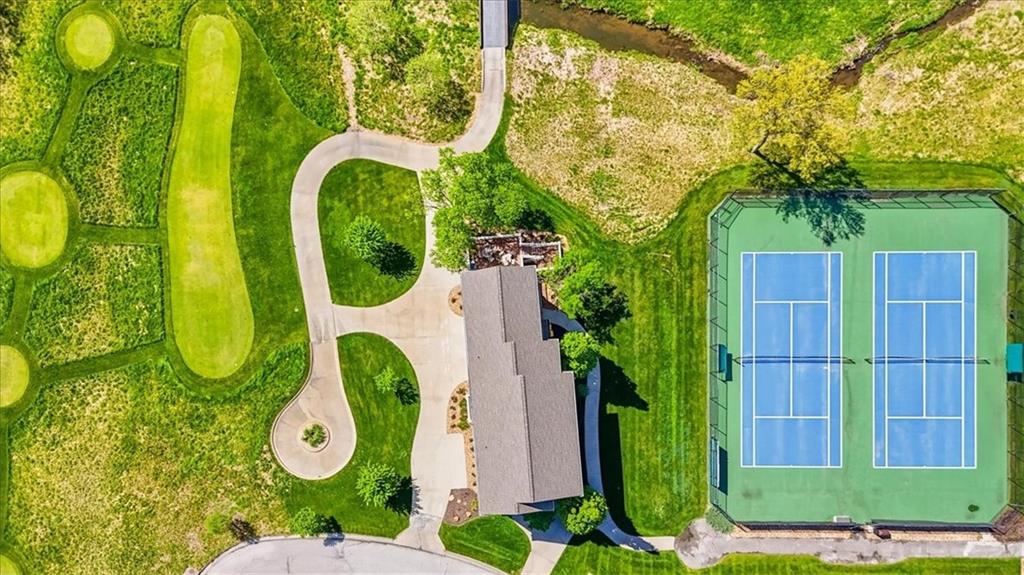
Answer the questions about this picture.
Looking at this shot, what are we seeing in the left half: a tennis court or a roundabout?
roundabout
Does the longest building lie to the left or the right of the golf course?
right of it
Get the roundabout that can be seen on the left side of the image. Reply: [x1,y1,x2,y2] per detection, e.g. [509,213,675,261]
[271,352,356,480]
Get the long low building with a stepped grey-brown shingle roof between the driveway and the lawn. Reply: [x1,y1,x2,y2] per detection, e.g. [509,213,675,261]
[461,267,584,517]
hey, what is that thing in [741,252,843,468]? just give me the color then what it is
blue tennis court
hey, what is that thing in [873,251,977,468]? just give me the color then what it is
blue tennis court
